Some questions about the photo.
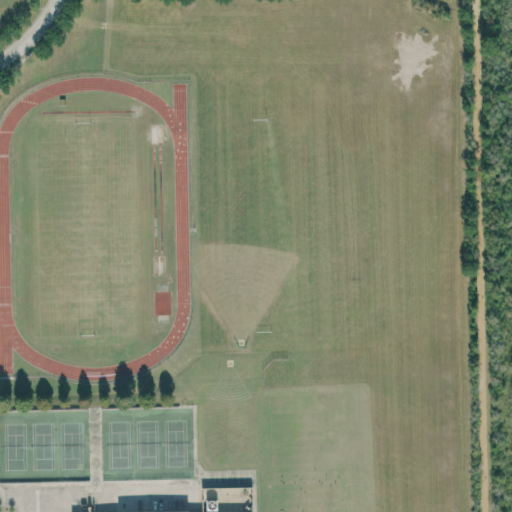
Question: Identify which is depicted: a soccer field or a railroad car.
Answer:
soccer field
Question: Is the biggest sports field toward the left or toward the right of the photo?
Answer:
left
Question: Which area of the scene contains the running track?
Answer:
left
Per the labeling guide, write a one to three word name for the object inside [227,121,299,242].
soccer field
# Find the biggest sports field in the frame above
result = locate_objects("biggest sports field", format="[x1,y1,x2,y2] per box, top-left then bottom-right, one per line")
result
[37,121,135,337]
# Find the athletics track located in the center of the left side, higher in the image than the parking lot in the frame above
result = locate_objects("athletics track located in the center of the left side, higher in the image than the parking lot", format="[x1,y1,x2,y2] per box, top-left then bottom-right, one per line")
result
[0,77,191,381]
